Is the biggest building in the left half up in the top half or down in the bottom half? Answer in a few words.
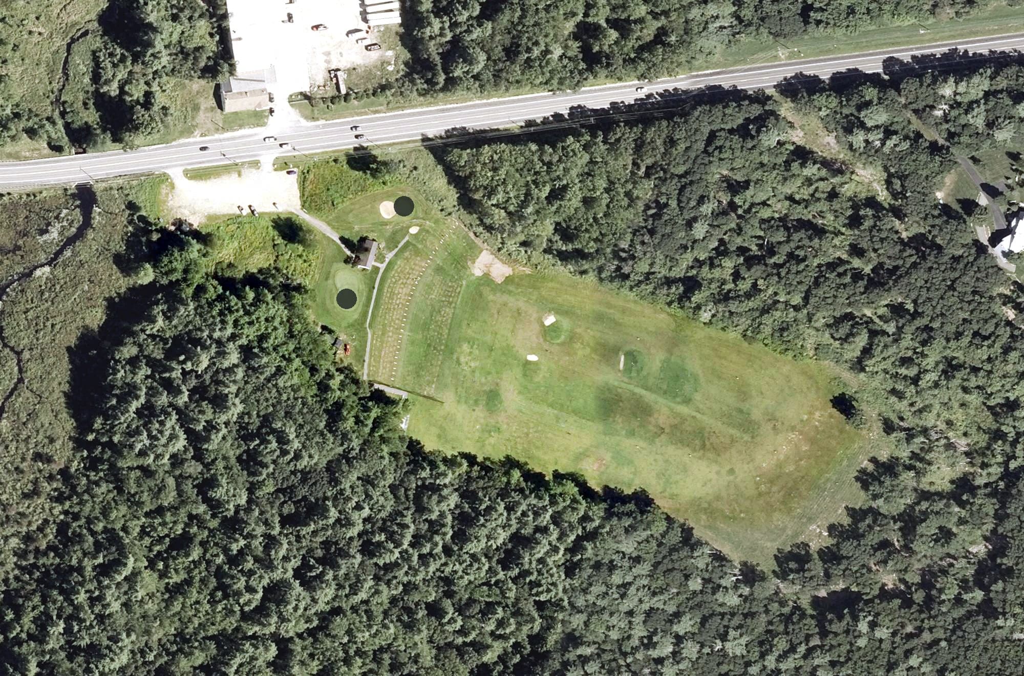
top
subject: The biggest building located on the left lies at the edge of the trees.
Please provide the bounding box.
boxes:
[222,66,276,112]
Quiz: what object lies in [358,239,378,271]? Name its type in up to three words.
building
